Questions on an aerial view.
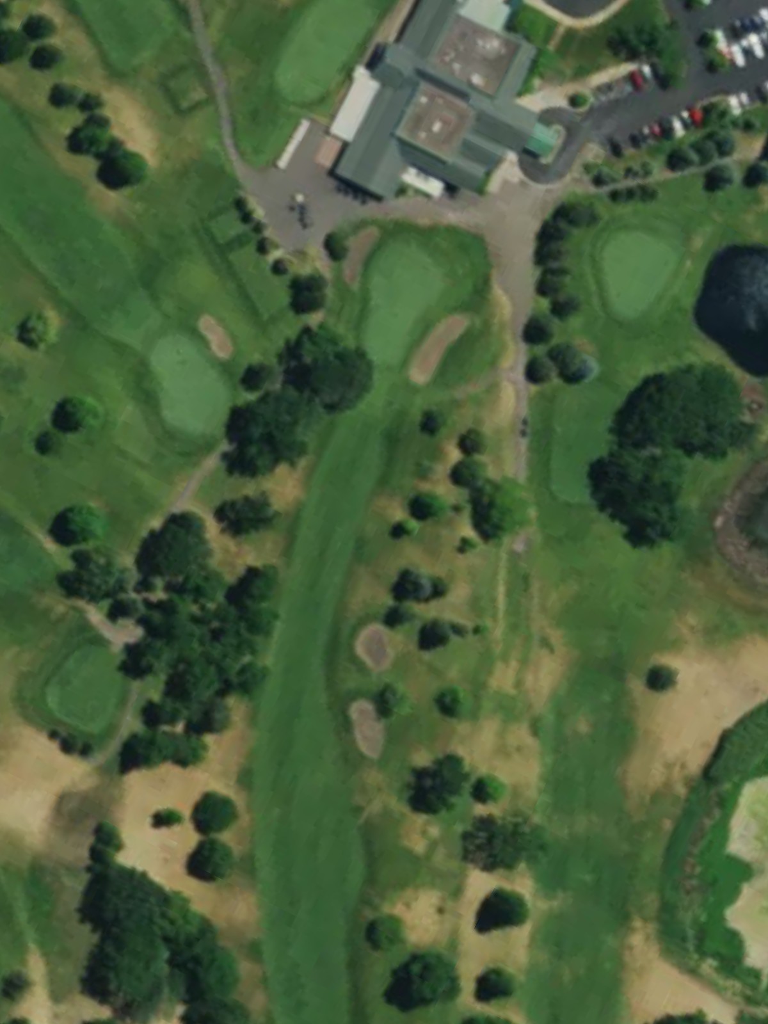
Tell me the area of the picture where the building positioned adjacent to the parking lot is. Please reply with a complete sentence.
The building positioned adjacent to the parking lot is in the top part of the image.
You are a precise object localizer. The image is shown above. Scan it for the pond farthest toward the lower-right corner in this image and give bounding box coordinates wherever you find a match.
[725,777,768,970]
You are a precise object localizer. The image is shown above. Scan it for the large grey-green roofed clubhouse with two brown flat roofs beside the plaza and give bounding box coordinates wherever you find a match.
[320,0,561,199]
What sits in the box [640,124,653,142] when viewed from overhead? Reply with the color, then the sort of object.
gray vehicle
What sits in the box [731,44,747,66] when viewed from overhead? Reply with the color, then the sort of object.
white vehicle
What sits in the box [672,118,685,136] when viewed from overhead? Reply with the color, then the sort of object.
white vehicle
